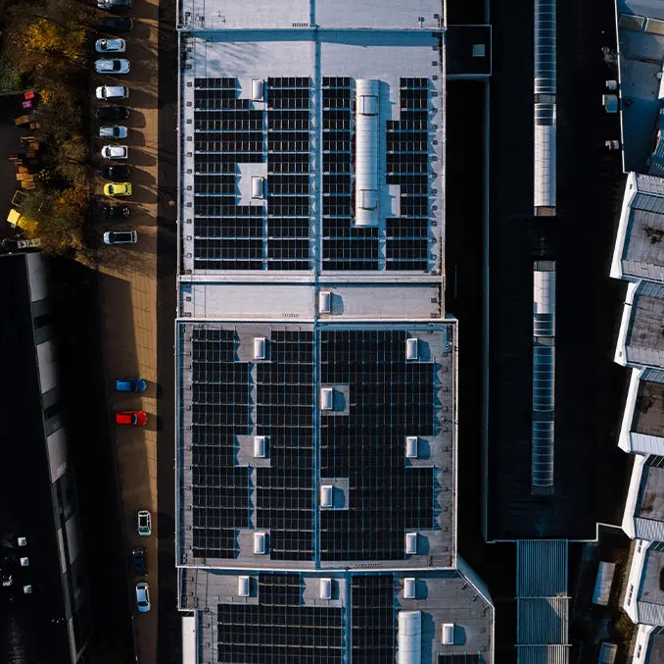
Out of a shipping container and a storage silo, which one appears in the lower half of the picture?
shipping container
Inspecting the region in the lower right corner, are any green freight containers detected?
No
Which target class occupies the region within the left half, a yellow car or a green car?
yellow car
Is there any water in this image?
No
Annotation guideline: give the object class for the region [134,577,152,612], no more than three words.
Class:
car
